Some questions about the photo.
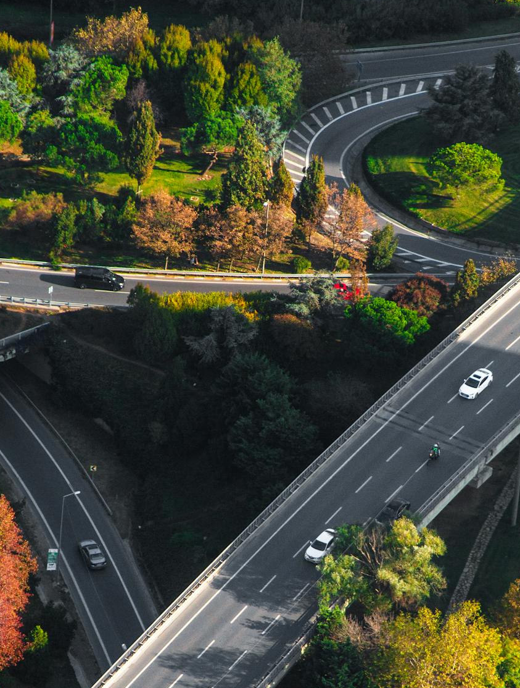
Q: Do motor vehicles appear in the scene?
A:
Yes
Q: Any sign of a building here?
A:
No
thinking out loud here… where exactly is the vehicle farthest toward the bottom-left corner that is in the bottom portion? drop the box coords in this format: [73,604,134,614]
[79,540,107,571]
